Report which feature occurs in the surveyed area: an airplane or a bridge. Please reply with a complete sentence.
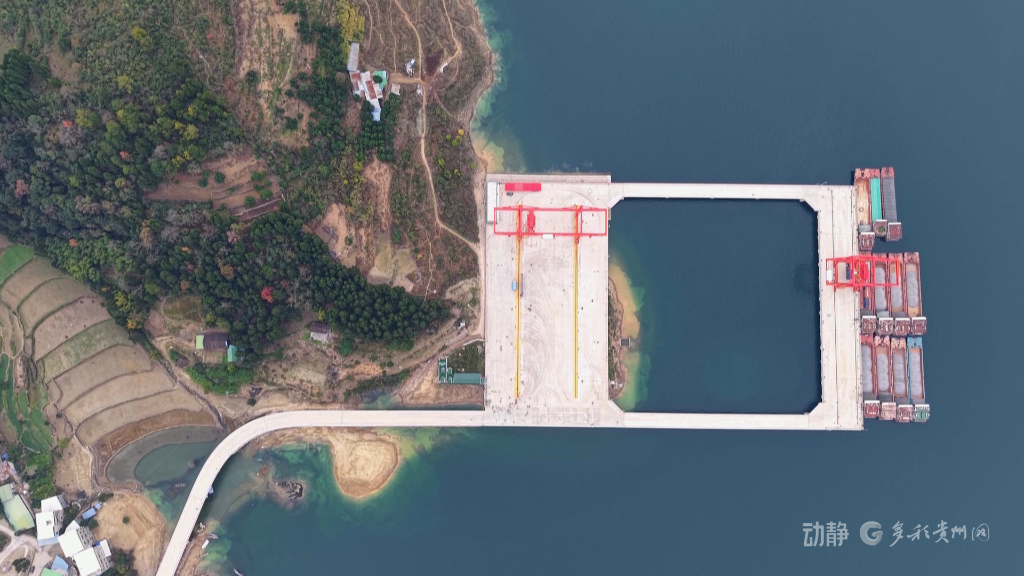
The one in the frame is a bridge.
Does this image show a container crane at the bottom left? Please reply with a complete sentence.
No, I see no container crane at the bottom left.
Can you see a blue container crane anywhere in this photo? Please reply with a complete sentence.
No, the photo shows no blue container crane.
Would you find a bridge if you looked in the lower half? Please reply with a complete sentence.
Yes, a bridge appears in the lower half.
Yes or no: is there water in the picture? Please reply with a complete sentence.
Yes, water can be seen from above here.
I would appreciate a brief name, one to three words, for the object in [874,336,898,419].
ship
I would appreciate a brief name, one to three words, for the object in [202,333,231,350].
house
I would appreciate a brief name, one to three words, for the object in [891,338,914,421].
ship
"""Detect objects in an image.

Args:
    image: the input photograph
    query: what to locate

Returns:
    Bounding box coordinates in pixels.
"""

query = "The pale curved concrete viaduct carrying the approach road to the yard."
[156,409,484,576]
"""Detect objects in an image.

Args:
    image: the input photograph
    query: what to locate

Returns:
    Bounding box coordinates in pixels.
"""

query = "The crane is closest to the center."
[494,202,607,246]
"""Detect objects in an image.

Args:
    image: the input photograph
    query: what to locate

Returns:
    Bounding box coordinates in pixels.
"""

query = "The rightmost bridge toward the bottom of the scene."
[624,413,809,429]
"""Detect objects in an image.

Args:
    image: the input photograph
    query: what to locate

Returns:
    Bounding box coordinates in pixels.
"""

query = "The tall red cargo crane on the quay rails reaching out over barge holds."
[825,255,901,295]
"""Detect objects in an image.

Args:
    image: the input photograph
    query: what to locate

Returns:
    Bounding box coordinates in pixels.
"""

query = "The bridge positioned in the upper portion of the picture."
[624,183,803,201]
